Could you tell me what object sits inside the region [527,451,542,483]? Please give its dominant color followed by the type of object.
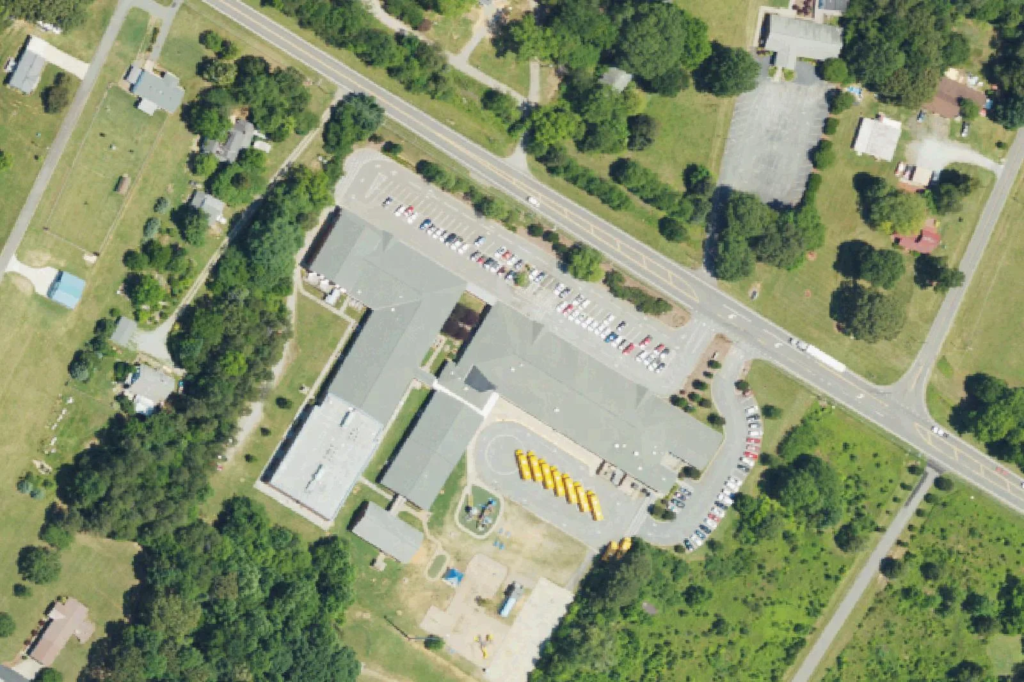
yellow vehicle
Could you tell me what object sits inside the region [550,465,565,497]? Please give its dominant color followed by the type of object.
yellow vehicle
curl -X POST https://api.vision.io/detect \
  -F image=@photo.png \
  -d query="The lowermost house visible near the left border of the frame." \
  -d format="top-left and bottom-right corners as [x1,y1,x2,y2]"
[31,594,97,663]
